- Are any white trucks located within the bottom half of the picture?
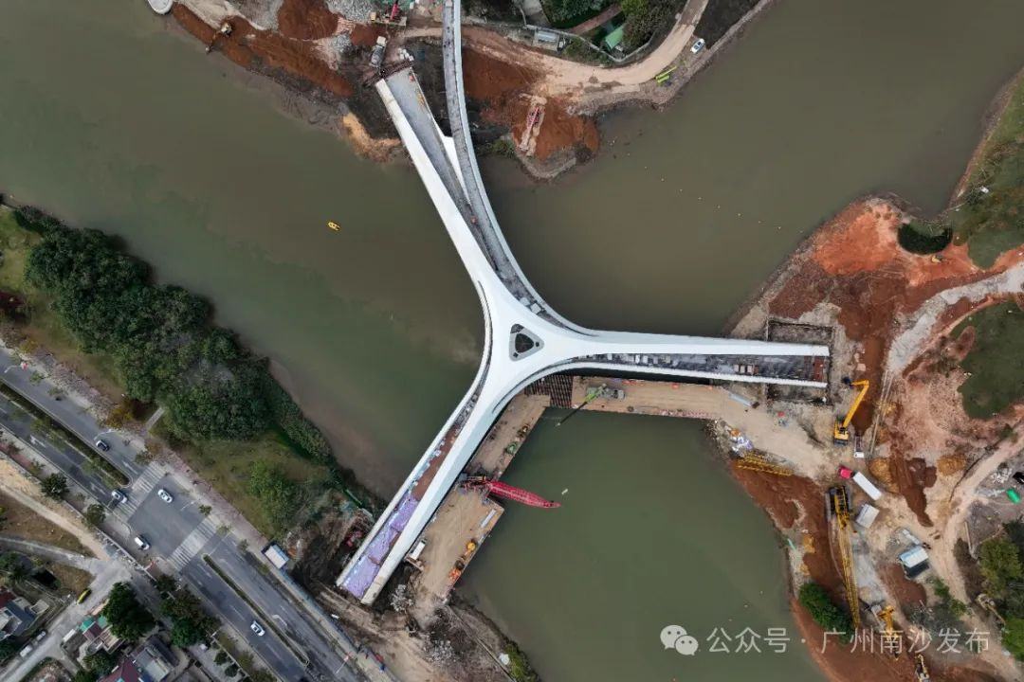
Yes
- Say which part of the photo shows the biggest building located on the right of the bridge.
bottom right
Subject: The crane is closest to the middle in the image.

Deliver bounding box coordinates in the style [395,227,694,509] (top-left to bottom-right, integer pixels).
[556,377,625,425]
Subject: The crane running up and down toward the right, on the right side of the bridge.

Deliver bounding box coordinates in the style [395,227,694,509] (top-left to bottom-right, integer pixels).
[827,487,860,627]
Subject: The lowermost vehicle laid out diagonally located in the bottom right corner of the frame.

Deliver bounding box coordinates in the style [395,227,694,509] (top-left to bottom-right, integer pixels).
[971,591,1008,627]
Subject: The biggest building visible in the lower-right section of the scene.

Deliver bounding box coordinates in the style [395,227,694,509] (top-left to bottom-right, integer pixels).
[895,546,928,569]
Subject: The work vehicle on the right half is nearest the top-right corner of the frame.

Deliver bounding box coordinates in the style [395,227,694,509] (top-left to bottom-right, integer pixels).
[925,251,943,264]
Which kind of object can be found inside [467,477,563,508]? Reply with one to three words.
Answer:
crane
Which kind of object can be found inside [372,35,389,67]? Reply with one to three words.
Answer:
vehicle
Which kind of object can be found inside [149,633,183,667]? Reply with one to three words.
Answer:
house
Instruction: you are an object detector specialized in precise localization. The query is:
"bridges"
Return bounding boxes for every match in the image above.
[336,0,828,606]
